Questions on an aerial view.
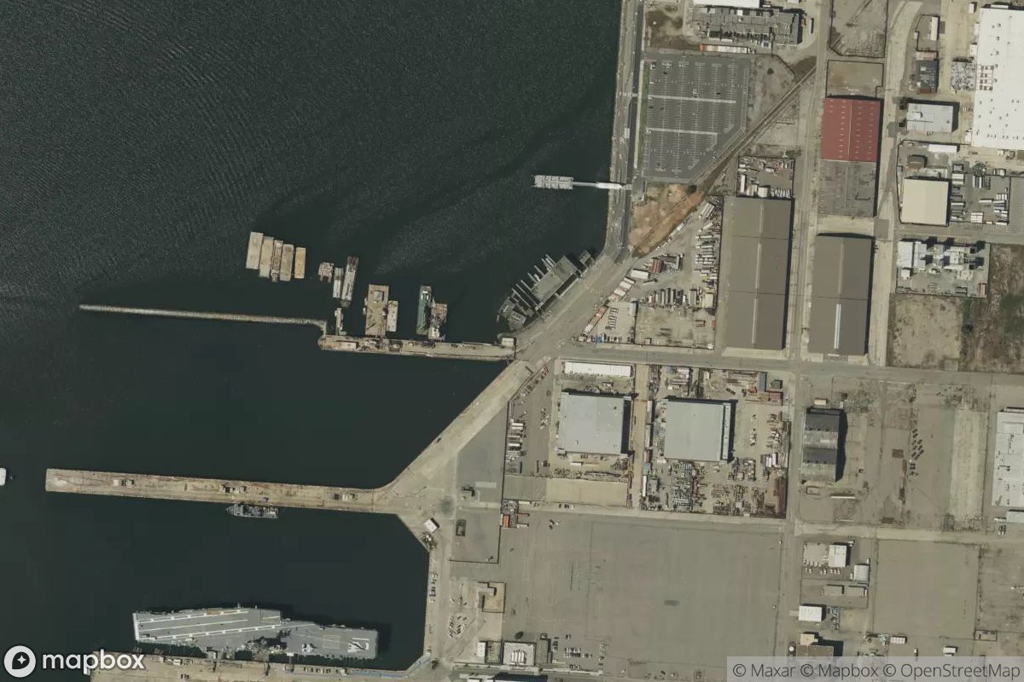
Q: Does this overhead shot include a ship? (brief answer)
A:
Yes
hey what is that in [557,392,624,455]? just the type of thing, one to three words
shed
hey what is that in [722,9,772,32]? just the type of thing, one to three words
building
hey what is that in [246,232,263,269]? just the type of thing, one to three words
ship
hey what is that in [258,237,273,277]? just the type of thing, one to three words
ship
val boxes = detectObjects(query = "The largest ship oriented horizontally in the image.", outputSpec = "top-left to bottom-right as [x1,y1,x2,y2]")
[133,606,377,662]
